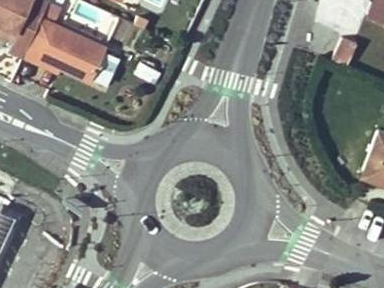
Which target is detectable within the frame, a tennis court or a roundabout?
roundabout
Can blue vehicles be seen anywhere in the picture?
No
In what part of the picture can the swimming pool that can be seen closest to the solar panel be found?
top left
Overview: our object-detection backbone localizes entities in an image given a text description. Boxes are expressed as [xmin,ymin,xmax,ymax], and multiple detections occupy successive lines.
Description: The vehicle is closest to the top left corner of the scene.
[20,62,34,82]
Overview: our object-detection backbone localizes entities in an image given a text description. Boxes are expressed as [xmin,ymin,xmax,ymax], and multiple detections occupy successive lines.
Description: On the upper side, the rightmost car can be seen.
[38,68,54,87]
